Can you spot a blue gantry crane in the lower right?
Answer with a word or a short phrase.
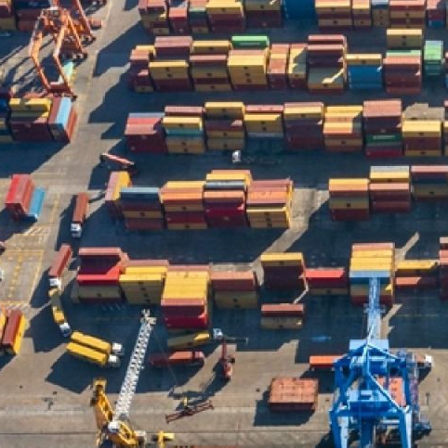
Yes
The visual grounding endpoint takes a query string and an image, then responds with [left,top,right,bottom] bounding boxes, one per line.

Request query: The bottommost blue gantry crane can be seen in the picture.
[332,272,436,448]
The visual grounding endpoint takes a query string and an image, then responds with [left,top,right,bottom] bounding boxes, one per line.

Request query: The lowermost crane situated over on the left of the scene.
[87,311,186,448]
